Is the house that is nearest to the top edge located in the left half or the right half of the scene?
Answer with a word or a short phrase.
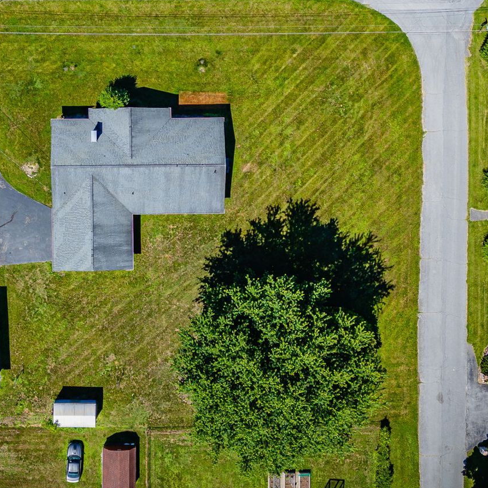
left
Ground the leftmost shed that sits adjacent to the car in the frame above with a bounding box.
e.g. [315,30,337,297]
[53,398,96,426]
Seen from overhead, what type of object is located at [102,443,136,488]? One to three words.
shed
